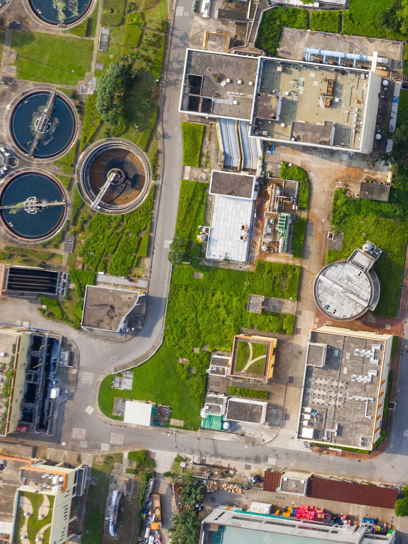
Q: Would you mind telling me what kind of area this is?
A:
industrial area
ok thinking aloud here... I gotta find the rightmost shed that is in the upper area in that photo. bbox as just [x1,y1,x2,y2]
[359,182,392,201]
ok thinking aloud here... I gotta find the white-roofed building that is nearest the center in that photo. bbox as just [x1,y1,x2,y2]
[206,195,260,263]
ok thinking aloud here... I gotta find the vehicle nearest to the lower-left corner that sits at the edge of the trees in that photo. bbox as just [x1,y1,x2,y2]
[150,491,163,530]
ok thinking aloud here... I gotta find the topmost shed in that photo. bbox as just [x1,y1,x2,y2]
[217,9,250,24]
